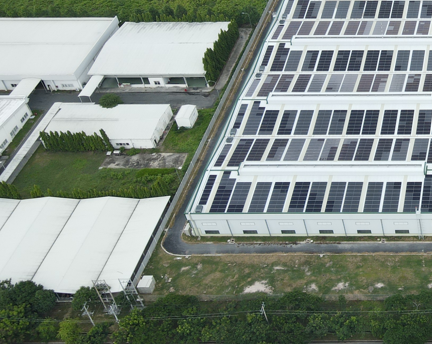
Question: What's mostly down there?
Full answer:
For the most part, this view shows buildings.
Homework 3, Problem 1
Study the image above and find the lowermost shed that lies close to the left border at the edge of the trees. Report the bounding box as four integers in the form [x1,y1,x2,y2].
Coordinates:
[0,196,172,299]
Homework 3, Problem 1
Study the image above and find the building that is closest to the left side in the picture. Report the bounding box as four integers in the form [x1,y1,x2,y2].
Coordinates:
[0,96,32,155]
